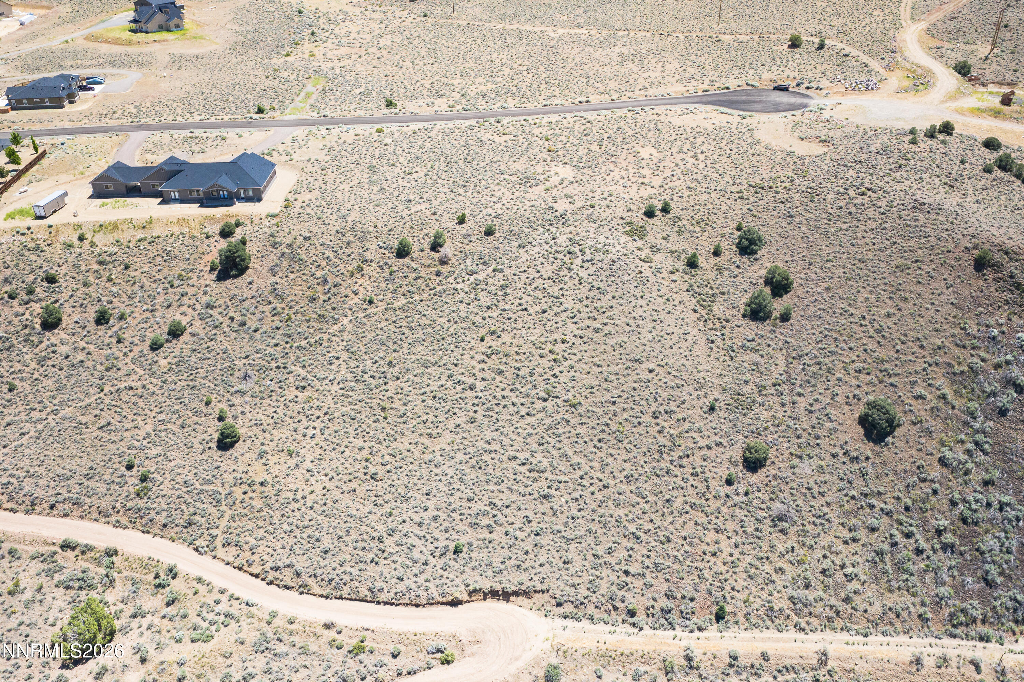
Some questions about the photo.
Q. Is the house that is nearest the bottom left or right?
left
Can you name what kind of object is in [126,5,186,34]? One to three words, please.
house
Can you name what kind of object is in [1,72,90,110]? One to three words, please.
house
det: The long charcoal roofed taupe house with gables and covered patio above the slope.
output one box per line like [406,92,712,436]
[88,152,277,205]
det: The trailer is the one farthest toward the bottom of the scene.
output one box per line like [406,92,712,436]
[33,188,79,216]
